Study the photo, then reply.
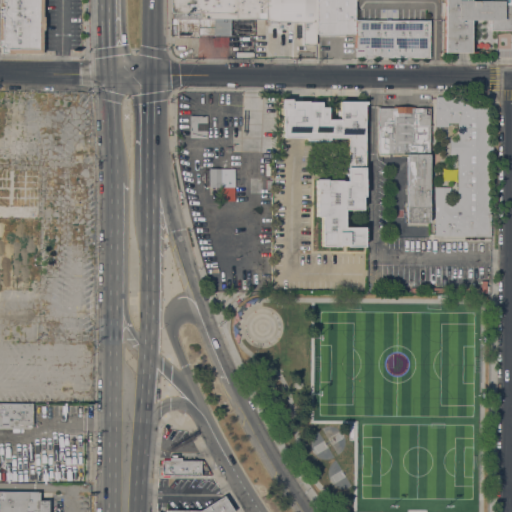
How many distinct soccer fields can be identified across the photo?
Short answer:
two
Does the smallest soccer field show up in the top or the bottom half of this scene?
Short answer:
bottom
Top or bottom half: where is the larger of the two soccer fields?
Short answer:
bottom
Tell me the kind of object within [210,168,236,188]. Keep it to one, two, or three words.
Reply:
building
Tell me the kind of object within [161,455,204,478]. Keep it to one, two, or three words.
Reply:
building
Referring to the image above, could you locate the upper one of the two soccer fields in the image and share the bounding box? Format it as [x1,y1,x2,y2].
[321,312,474,416]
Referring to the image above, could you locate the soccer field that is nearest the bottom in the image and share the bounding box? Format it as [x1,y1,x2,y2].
[362,425,474,500]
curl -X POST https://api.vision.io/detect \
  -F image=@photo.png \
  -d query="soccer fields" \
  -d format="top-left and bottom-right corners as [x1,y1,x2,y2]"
[321,312,474,416]
[362,425,474,500]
